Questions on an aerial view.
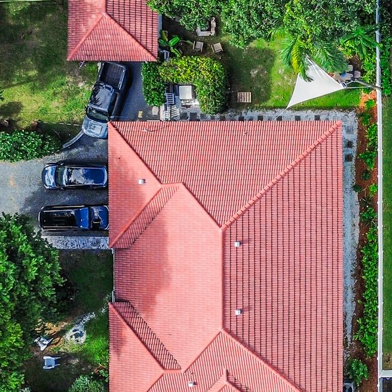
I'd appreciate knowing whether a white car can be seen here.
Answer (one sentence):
No, there isn't any white car down there.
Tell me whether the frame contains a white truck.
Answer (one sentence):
No, there's no white truck here.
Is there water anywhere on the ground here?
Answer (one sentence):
No, the scene doesn't show any water.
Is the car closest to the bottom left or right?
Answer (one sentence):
It is on the left.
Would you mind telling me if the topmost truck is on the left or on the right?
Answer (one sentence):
The topmost truck sits on the left side.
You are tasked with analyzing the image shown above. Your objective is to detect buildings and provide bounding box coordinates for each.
[66,0,175,63]
[105,120,343,392]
